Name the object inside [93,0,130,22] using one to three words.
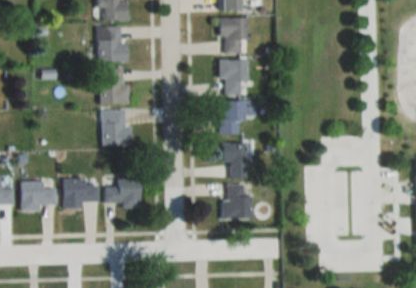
house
